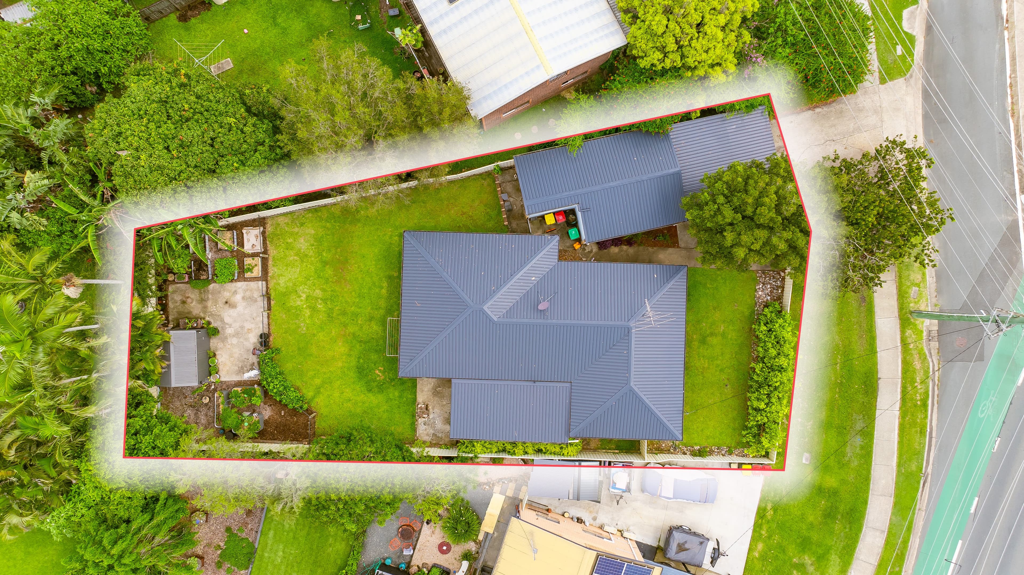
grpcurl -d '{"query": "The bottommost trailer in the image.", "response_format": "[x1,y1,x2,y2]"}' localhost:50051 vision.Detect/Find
[665,530,734,575]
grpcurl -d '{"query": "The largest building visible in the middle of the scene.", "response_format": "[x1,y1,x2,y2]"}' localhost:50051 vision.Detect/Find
[396,228,695,443]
